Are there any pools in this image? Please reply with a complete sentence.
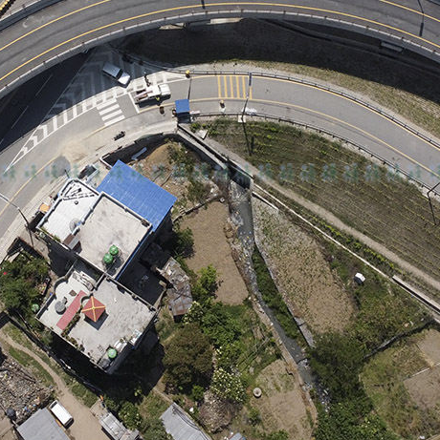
No, there's no pool here.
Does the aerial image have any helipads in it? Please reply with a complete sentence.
No, no helipad is visible in the scene.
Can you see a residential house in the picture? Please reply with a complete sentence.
Yes, there is a residential house in the image.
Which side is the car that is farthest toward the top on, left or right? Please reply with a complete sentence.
You can find the car that is farthest toward the top on the left side of the picture.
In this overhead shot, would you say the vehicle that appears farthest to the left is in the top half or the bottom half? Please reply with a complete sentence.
The vehicle that appears farthest to the left sits in the bottom half of the picture.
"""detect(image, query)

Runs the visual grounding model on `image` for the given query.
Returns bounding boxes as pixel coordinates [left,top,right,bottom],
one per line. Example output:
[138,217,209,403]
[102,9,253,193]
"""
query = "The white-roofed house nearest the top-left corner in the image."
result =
[36,179,99,255]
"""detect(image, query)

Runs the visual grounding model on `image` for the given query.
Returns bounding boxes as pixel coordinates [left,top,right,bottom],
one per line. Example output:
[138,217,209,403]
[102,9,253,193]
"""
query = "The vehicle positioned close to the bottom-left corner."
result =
[48,397,76,430]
